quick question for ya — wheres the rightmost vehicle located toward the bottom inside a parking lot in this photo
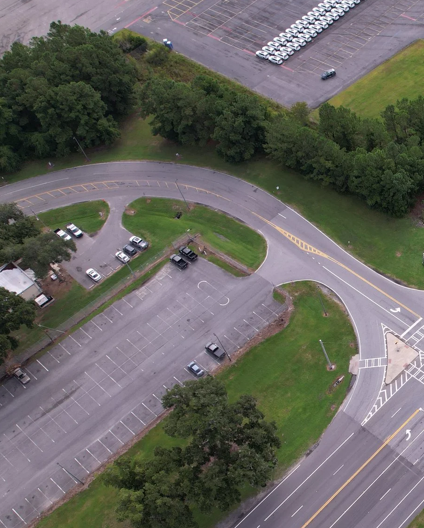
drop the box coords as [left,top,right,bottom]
[204,342,226,359]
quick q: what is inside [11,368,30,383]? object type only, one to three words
car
